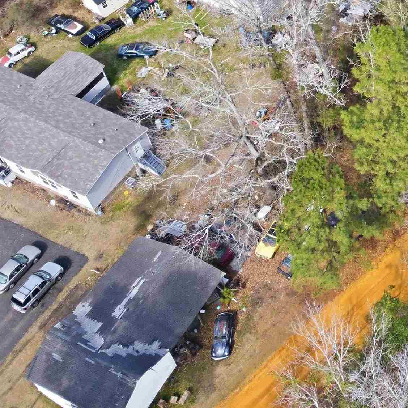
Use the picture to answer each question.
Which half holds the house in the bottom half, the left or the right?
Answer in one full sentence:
The house in the bottom half appears in the left half of the scene.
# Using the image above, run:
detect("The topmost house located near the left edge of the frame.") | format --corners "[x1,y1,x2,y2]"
[0,50,157,211]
